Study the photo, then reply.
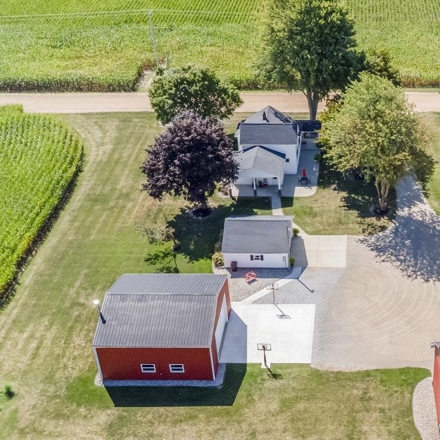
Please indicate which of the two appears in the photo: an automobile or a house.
house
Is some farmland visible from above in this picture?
Yes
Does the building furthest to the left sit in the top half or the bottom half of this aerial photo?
bottom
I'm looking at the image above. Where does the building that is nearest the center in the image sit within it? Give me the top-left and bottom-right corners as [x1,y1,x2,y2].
[220,216,294,268]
